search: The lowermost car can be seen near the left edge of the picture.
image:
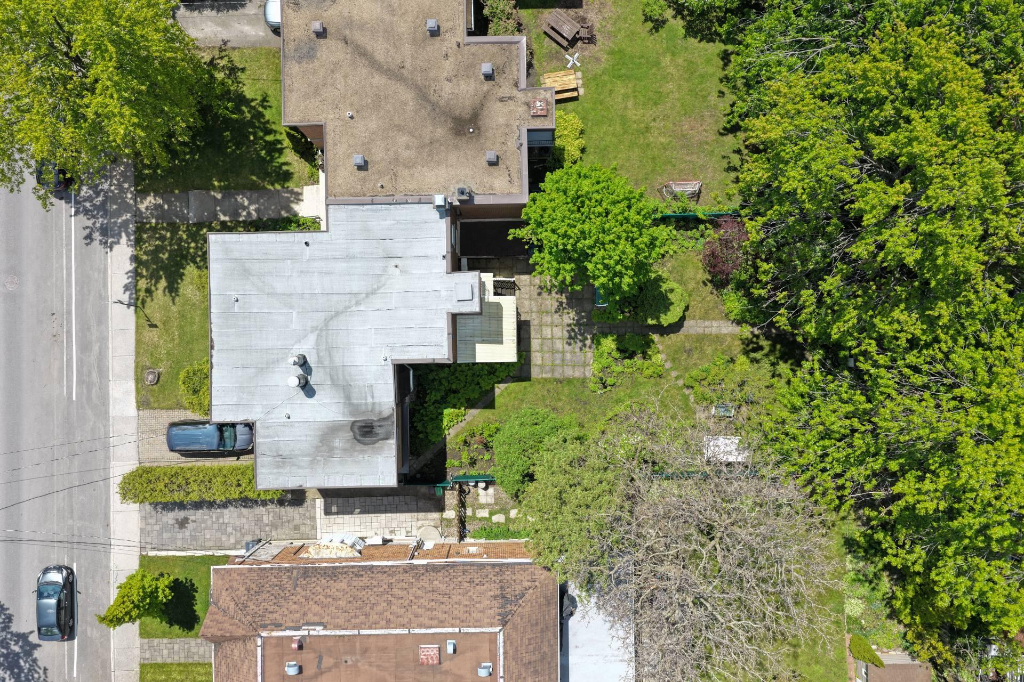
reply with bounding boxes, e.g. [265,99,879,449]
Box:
[32,562,78,642]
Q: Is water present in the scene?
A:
No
